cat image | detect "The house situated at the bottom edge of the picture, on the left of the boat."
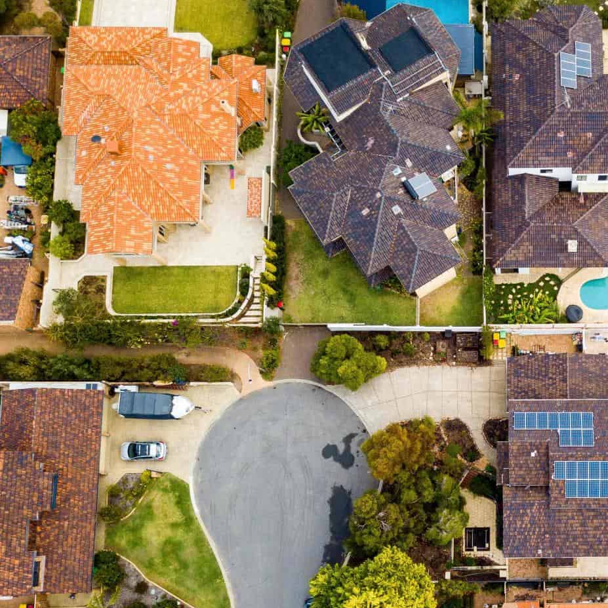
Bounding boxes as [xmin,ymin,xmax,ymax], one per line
[0,387,111,600]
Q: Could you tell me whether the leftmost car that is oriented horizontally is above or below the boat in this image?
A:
below it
